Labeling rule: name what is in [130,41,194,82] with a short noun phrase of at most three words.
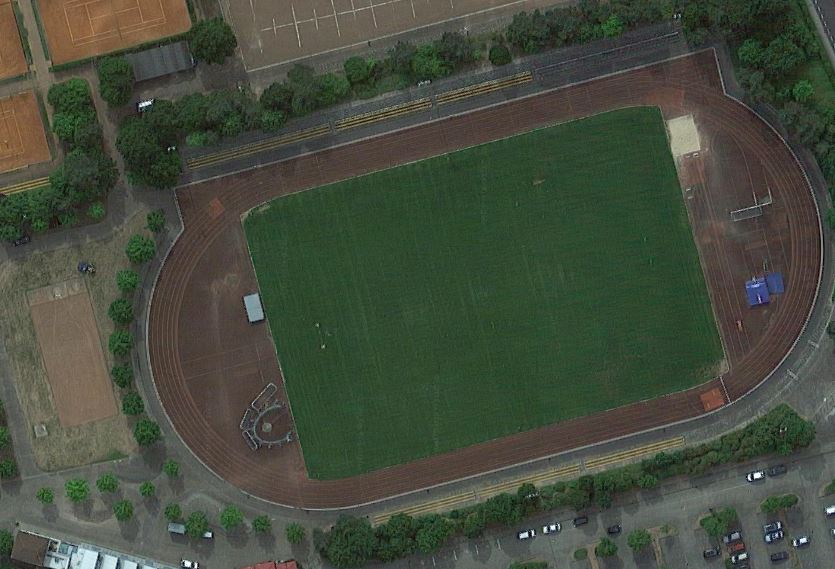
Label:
shed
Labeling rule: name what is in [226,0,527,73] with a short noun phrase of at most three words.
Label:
sports court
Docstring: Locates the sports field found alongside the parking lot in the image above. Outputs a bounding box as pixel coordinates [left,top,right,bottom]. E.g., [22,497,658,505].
[240,105,728,481]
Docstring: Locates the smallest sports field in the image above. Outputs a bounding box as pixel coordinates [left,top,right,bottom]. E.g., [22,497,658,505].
[27,279,118,426]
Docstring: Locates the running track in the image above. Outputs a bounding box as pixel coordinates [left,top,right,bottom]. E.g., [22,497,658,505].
[148,48,822,509]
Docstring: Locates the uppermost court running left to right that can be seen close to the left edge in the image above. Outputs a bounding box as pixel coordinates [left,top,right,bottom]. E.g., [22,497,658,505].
[38,0,191,66]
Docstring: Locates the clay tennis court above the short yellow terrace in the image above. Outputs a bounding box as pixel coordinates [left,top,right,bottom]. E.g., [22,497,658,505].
[0,90,51,174]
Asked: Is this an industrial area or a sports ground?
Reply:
sports ground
